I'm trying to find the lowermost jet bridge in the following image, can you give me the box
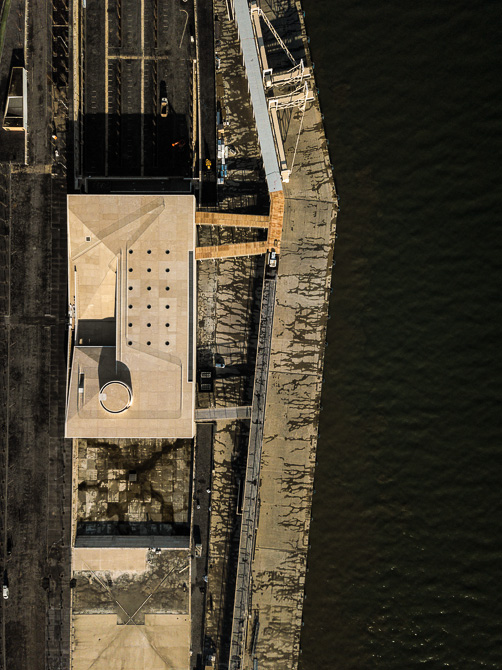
[268,79,315,185]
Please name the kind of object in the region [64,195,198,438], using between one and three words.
building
